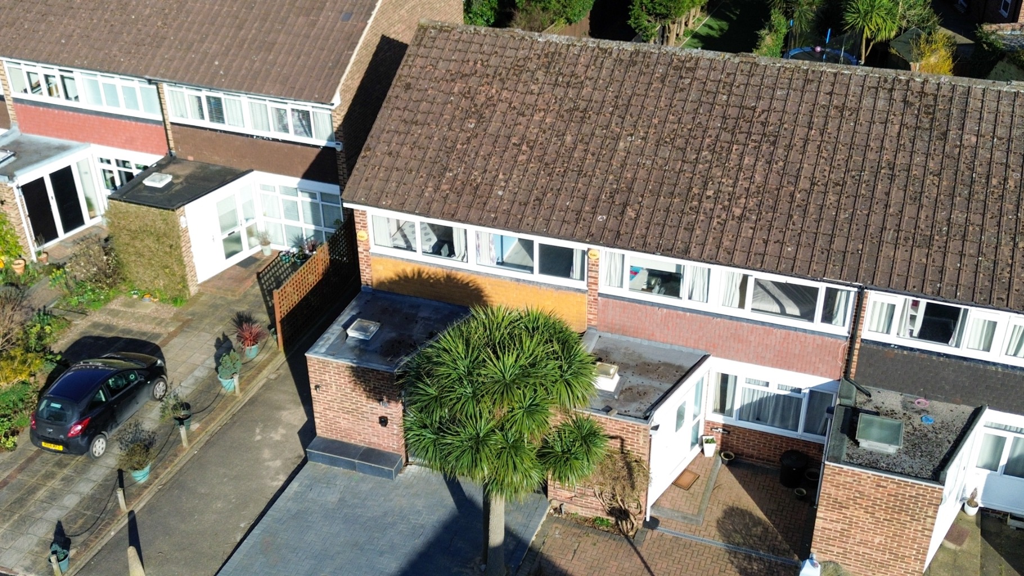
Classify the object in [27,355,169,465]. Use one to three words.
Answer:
car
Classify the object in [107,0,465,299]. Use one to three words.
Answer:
house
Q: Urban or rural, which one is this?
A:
urban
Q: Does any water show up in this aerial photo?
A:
No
